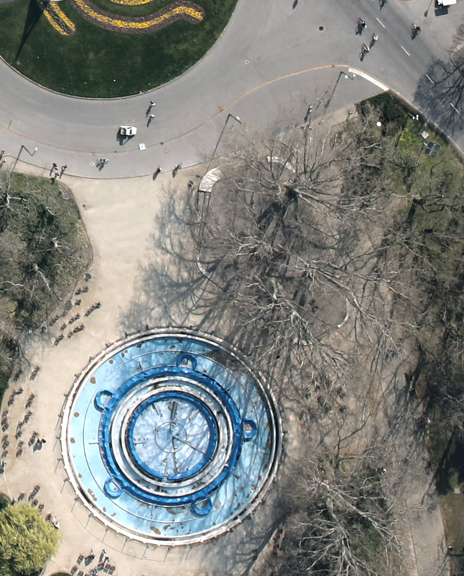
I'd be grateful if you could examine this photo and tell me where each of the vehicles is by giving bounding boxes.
[438,0,456,5]
[117,125,135,136]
